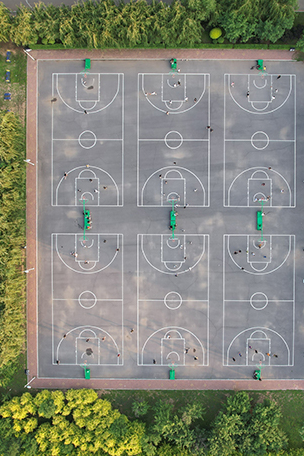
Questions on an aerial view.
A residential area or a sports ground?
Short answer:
sports ground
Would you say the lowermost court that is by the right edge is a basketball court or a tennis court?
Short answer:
basketball court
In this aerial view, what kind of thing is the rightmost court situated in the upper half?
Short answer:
basketball court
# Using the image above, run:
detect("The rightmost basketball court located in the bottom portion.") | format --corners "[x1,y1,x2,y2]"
[223,234,295,366]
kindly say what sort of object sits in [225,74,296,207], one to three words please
basketball court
